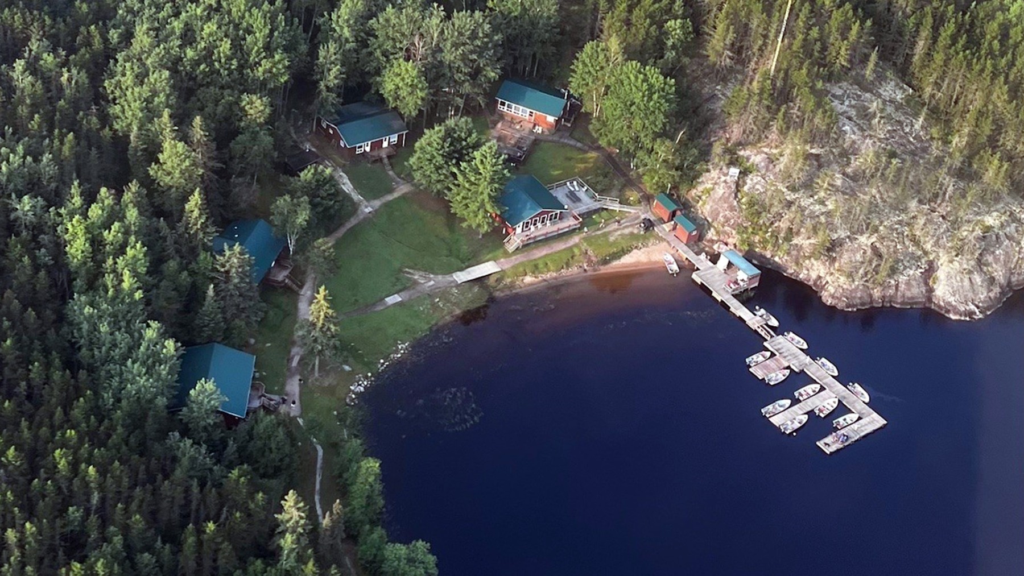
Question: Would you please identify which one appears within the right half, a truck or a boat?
boat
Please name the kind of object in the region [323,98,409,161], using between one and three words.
building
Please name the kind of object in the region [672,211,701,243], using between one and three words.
shed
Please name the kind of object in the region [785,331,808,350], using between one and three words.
boat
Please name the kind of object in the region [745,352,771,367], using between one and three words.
boat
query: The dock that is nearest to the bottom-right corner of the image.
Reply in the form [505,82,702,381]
[750,335,888,455]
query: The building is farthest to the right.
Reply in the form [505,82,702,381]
[713,249,761,294]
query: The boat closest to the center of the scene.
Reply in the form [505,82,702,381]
[664,254,678,276]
